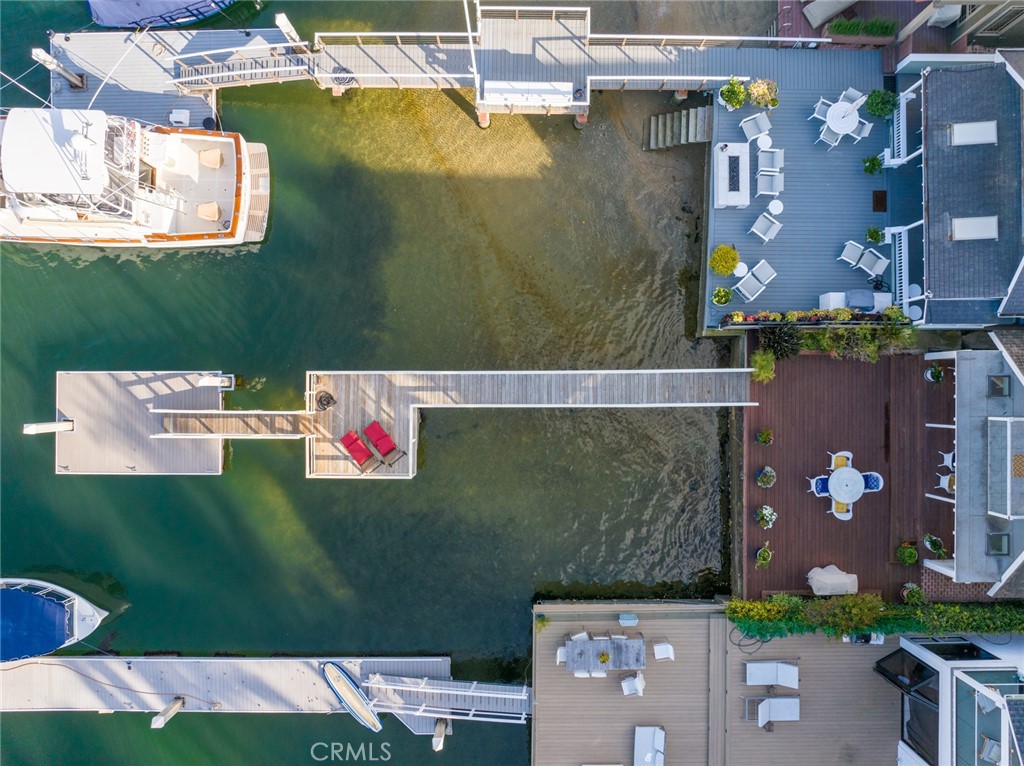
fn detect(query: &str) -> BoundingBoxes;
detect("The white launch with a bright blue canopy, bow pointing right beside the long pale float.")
[0,576,108,662]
